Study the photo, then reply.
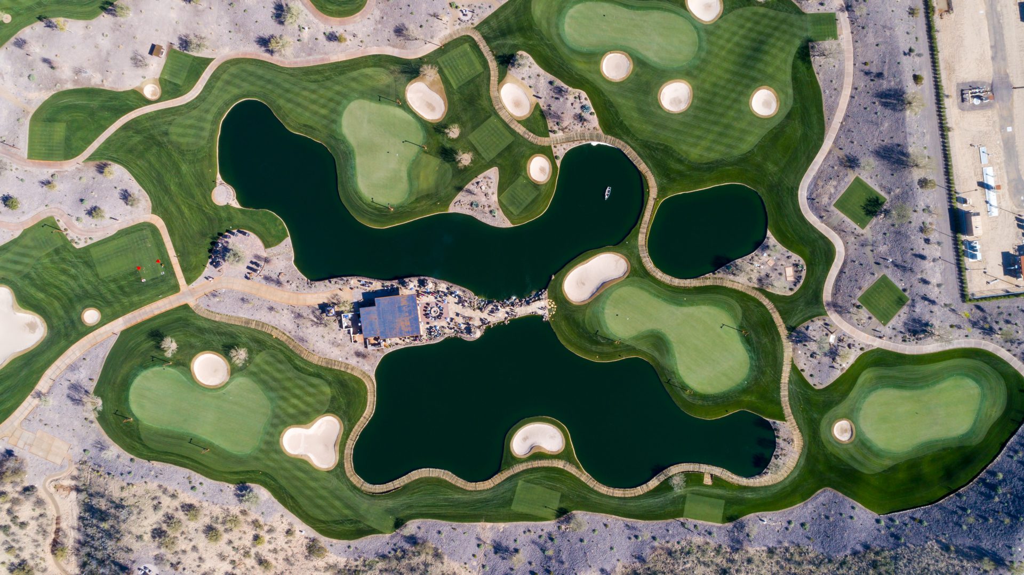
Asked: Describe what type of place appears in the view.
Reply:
golf course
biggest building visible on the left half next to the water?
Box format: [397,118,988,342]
[360,294,422,339]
